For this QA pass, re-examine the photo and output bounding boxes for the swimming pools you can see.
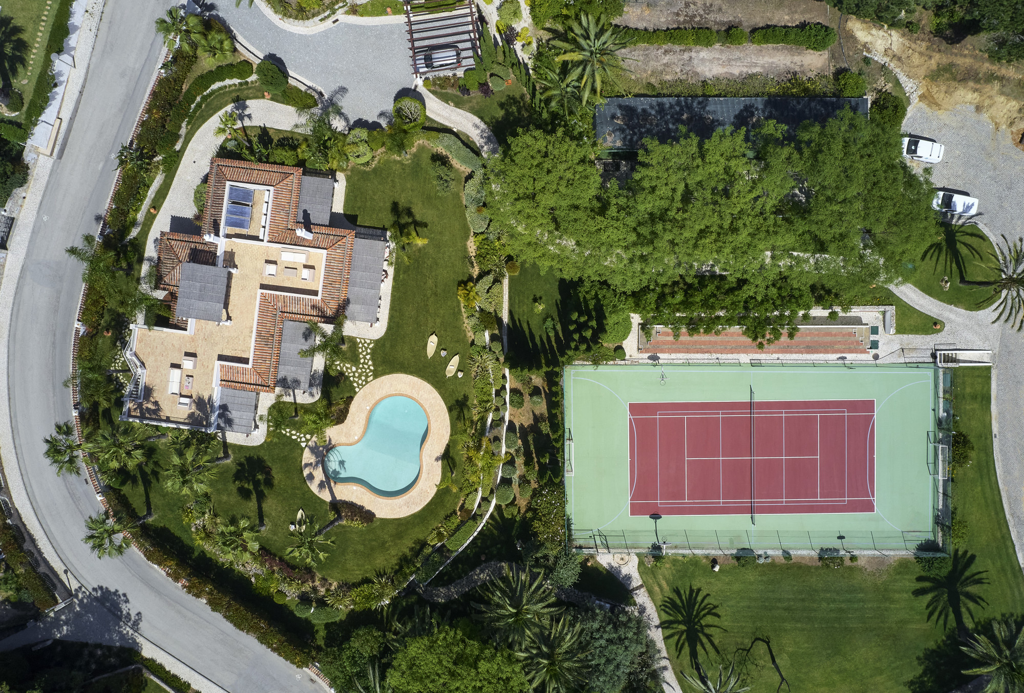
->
[302,374,450,518]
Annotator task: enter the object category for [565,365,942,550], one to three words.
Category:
sports court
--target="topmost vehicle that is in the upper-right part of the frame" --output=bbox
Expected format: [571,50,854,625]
[895,136,946,164]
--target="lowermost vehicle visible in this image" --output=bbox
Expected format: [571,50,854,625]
[929,190,981,216]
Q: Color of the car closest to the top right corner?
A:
white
